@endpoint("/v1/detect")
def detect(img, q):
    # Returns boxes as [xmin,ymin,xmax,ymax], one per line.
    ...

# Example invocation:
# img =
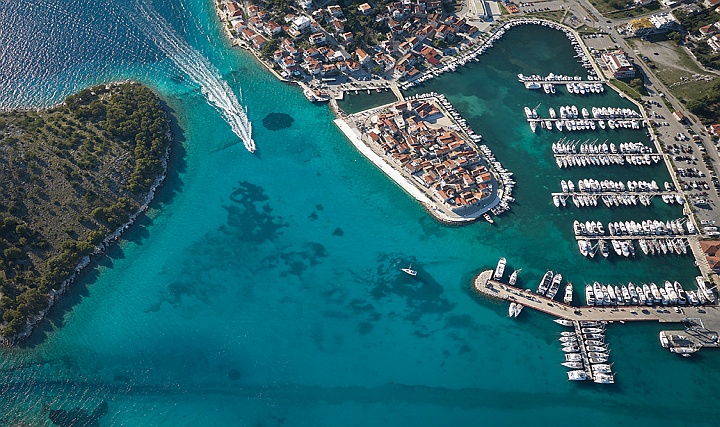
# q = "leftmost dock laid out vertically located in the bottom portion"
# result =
[574,321,593,380]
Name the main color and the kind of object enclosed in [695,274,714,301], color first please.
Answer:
white boat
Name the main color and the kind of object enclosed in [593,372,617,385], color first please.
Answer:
white boat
